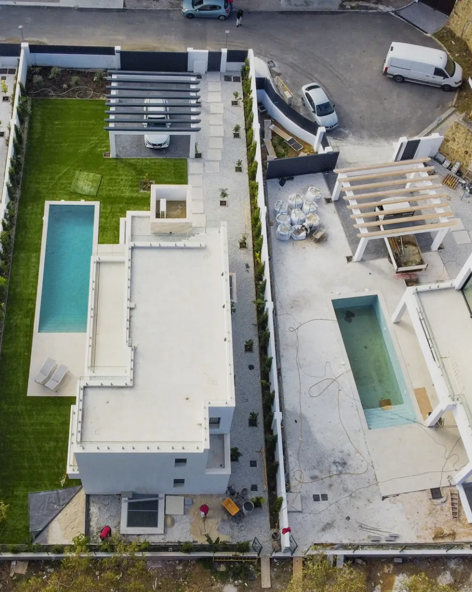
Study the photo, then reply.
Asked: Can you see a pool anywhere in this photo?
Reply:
Yes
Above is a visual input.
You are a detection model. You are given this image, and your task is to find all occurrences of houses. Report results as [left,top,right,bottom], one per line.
[393,252,472,488]
[65,185,235,494]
